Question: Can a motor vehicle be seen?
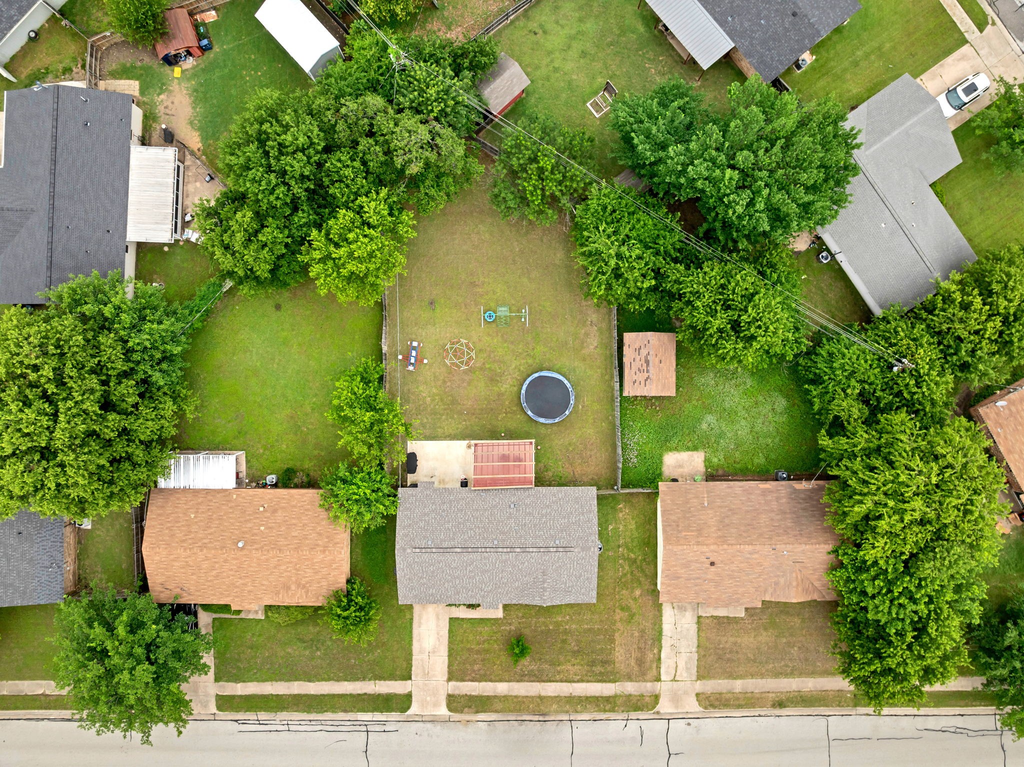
Yes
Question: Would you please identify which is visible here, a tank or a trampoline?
trampoline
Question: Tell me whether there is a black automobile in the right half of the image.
No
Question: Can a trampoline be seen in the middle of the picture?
Yes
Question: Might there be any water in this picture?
No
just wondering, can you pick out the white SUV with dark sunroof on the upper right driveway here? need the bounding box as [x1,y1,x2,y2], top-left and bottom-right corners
[938,73,991,123]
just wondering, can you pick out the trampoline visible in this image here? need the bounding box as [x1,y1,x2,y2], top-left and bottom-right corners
[521,370,575,424]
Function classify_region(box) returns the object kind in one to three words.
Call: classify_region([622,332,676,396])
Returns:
shed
